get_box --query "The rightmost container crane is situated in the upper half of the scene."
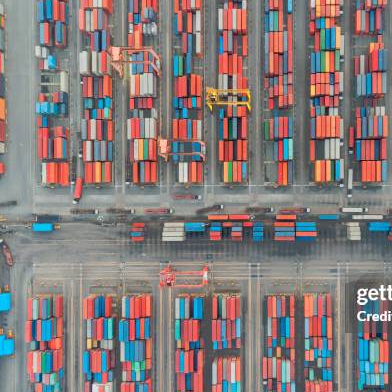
[204,88,250,114]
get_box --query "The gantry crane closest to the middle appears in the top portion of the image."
[155,139,207,161]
